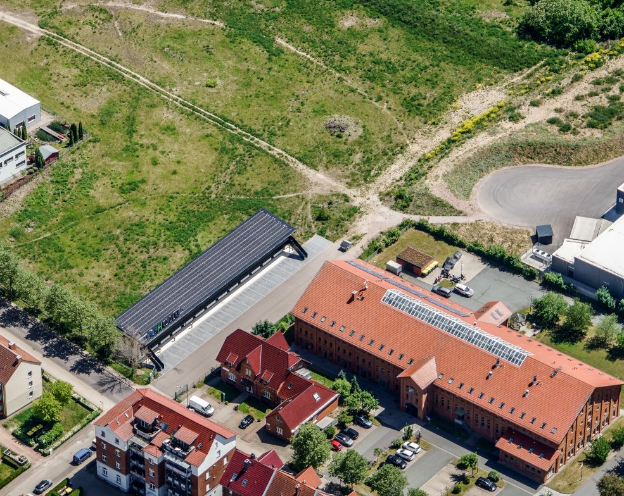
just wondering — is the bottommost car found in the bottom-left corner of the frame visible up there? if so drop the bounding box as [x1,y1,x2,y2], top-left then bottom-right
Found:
[31,473,53,490]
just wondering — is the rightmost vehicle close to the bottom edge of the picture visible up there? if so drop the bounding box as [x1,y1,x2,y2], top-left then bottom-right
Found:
[473,470,499,487]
